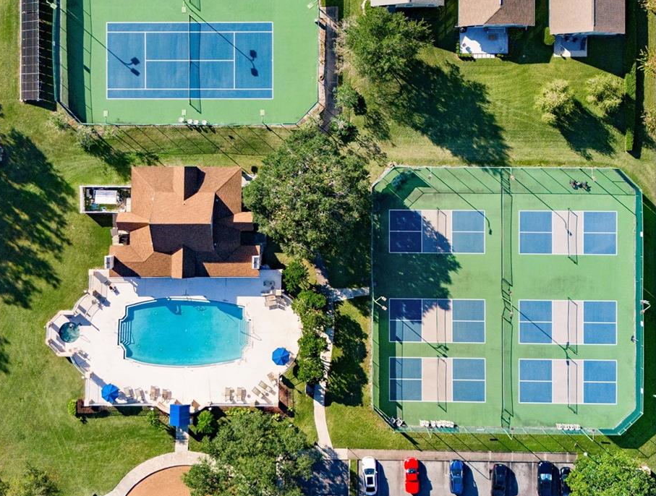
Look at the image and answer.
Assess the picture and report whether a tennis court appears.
Yes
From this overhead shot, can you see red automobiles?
Yes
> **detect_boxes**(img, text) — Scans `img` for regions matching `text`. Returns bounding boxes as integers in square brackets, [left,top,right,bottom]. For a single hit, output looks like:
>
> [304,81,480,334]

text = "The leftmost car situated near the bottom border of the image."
[361,456,378,495]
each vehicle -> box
[537,462,554,496]
[559,468,572,496]
[403,458,420,495]
[491,464,508,496]
[361,456,378,495]
[448,460,465,495]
